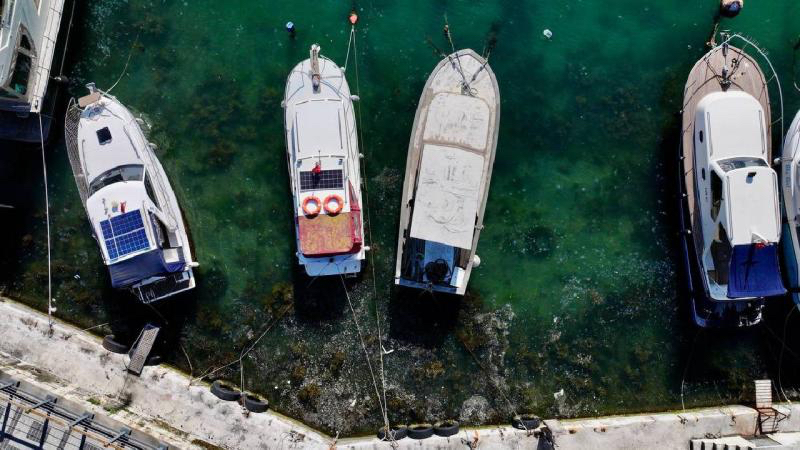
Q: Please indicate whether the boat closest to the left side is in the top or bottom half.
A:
top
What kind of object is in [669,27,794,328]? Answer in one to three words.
boat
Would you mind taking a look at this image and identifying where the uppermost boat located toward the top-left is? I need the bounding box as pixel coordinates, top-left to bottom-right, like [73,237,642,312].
[0,0,97,141]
